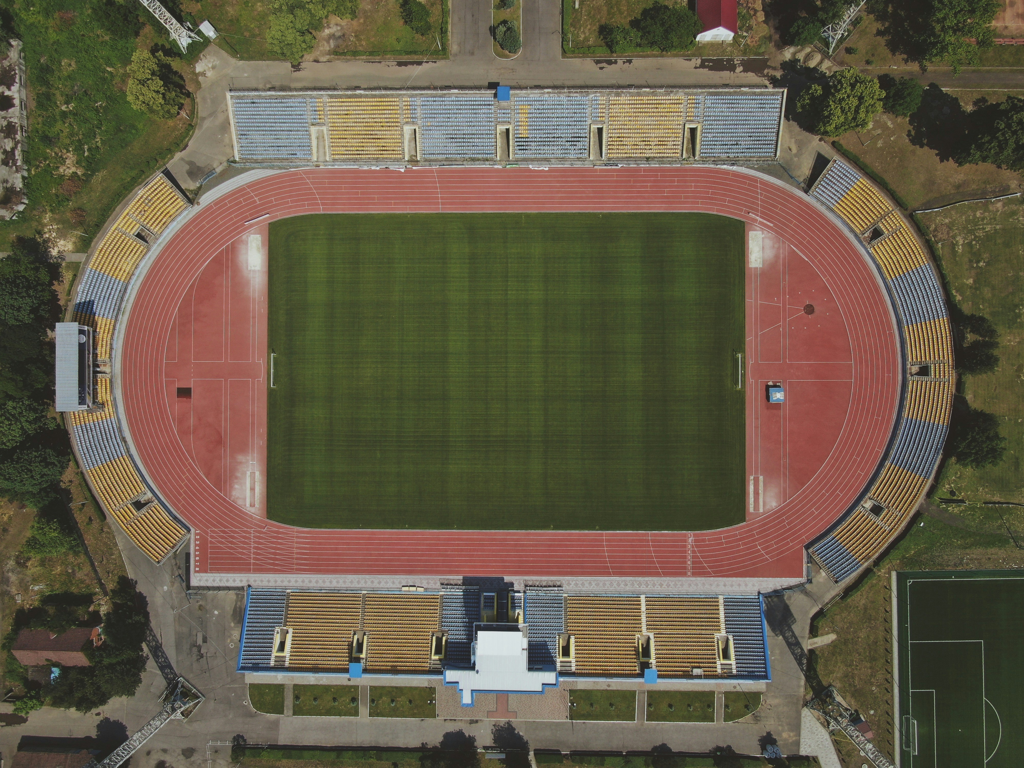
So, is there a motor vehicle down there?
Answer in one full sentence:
No, there is no motor vehicle in the image.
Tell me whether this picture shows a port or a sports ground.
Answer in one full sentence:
The picture captures a sports ground.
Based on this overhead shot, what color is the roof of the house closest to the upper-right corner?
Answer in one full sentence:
From above, the roof of the house closest to the upper-right corner looks red.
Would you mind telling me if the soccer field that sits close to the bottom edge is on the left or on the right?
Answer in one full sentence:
The soccer field that sits close to the bottom edge sits on the right side.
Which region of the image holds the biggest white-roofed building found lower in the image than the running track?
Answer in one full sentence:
Look in the bottom portion of the view to spot the biggest white-roofed building found lower in the image than the running track.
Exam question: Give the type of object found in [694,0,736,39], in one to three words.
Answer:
house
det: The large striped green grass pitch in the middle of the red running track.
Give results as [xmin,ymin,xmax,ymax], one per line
[266,213,746,531]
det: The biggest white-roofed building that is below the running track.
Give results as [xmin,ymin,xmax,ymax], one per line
[442,621,560,707]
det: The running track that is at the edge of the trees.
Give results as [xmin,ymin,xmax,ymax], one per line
[121,166,899,580]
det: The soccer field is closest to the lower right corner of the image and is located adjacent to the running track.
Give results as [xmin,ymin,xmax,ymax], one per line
[897,568,1024,768]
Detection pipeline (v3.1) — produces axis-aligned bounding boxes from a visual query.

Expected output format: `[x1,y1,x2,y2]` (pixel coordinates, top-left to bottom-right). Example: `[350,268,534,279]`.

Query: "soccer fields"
[266,213,746,531]
[897,568,1024,768]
